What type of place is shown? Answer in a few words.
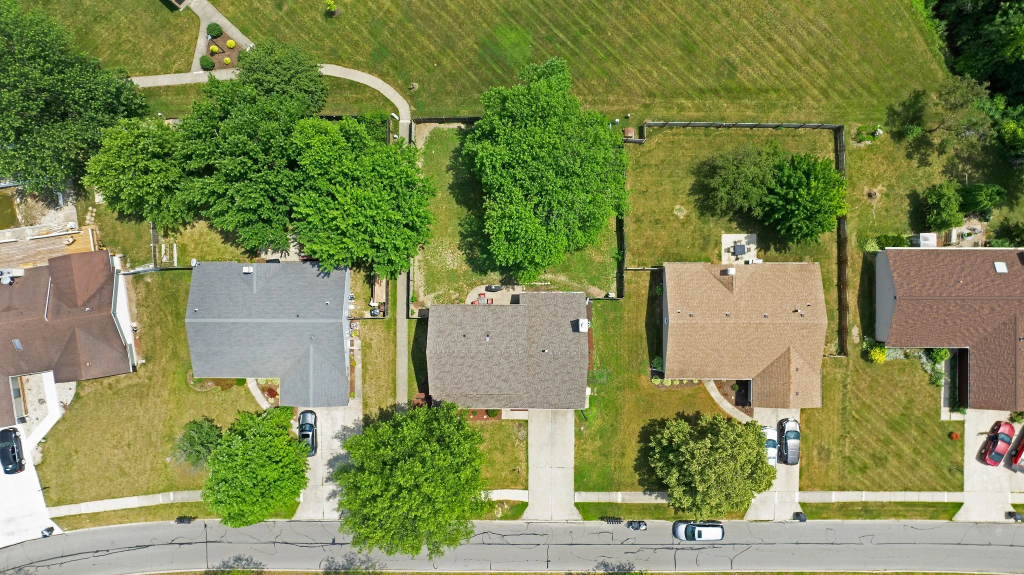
residential area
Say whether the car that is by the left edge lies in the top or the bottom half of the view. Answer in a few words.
bottom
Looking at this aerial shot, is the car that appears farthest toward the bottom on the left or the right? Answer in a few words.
right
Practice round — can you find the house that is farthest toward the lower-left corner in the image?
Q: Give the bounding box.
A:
[0,250,135,428]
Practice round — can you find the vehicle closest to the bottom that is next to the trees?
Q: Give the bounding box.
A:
[673,516,726,540]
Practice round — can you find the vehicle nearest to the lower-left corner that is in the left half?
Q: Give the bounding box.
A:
[0,427,20,477]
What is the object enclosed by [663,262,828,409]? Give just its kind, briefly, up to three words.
house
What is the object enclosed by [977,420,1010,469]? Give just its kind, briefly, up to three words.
car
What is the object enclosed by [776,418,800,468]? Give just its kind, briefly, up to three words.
car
